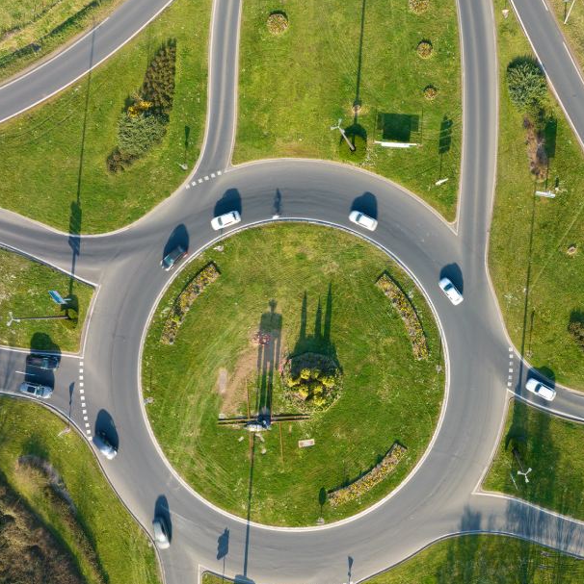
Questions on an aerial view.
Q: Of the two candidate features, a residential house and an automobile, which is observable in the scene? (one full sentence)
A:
There is an automobile in the scene.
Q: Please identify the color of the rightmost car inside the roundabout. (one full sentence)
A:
From above, the rightmost car inside the roundabout appears white.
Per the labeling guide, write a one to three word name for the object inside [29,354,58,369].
car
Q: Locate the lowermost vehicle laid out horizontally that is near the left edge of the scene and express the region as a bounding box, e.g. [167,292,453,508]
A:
[19,380,53,398]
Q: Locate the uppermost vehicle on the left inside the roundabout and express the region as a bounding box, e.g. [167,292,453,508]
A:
[213,211,240,230]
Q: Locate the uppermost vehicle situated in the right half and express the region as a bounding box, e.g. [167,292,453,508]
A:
[350,211,378,232]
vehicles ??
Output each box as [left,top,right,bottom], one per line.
[153,519,171,547]
[350,211,378,232]
[92,434,118,460]
[29,354,58,369]
[161,246,189,270]
[213,211,240,230]
[440,278,465,306]
[527,379,555,401]
[19,380,53,398]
